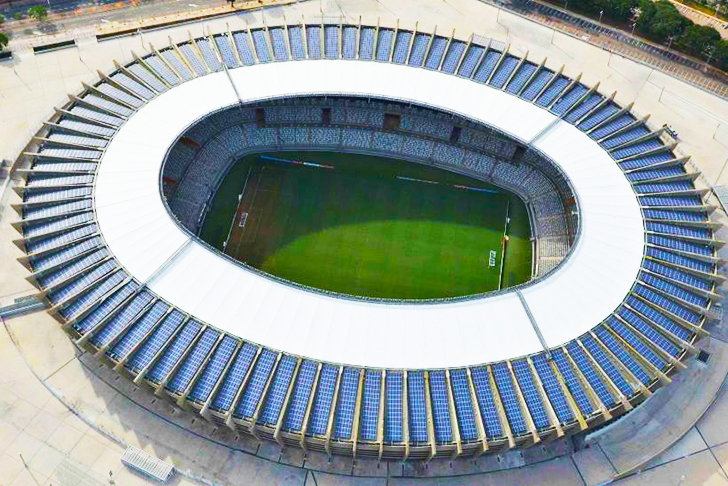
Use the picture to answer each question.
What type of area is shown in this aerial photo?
sports ground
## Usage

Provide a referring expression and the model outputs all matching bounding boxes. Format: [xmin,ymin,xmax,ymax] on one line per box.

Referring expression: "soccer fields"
[200,149,531,301]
